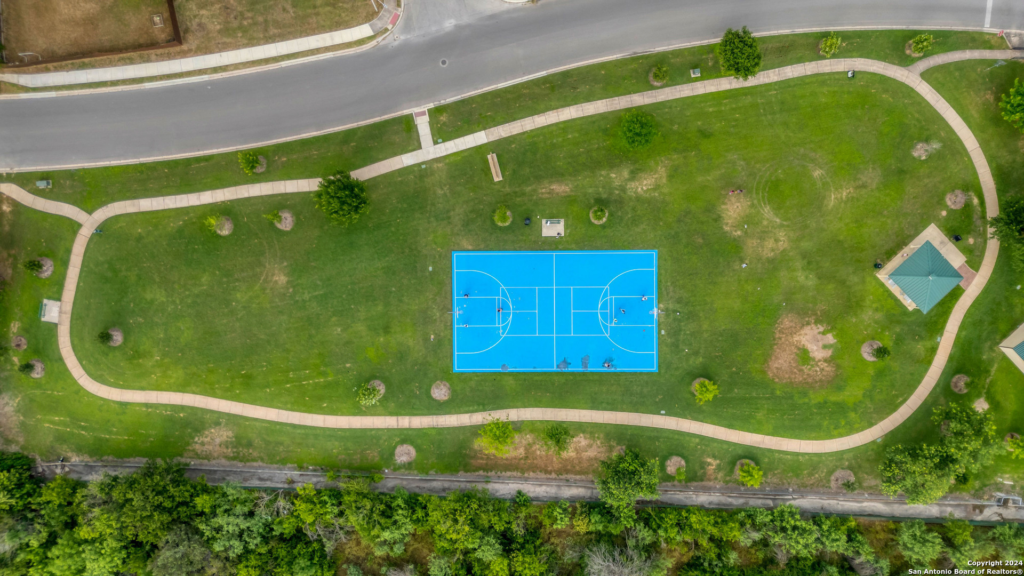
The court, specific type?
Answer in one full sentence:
In the photo, the court shows up as a basketball court.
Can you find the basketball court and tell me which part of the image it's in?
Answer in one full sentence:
Look in the center portion of the view to spot the basketball court.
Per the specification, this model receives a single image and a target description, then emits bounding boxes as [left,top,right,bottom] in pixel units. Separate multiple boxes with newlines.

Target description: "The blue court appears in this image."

[453,250,658,373]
